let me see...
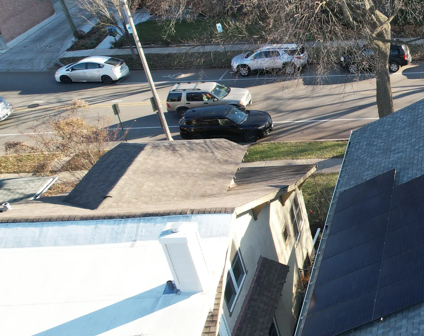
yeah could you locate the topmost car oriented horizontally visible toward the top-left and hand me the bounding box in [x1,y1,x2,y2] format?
[48,53,130,85]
